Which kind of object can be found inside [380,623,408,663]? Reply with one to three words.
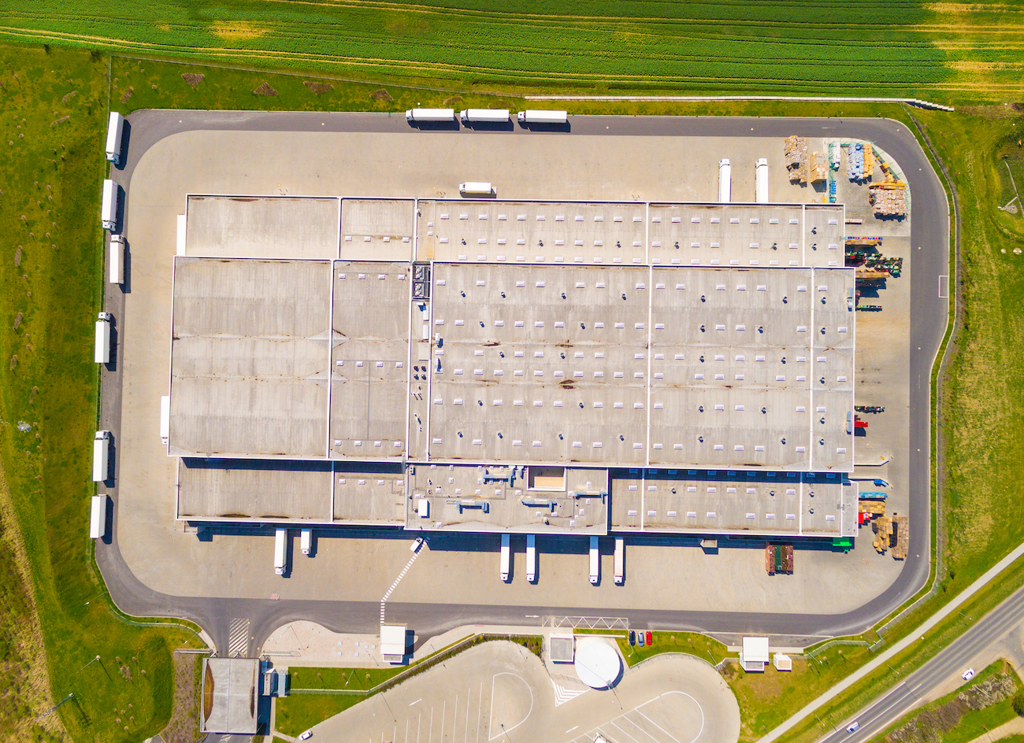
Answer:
building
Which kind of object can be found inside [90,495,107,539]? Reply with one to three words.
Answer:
trailer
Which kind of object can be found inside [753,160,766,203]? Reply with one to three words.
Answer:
vehicle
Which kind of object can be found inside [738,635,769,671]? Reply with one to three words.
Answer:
building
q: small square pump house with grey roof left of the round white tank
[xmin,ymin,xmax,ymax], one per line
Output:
[550,630,573,662]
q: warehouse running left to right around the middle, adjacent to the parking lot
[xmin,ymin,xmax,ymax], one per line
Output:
[168,194,859,543]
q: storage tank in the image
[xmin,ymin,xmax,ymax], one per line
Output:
[572,637,620,688]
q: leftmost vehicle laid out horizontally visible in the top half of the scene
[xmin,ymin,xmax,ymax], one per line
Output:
[404,108,455,121]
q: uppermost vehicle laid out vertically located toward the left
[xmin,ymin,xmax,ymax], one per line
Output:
[106,109,126,164]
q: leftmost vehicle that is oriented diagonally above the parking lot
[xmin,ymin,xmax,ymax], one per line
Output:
[410,536,423,552]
